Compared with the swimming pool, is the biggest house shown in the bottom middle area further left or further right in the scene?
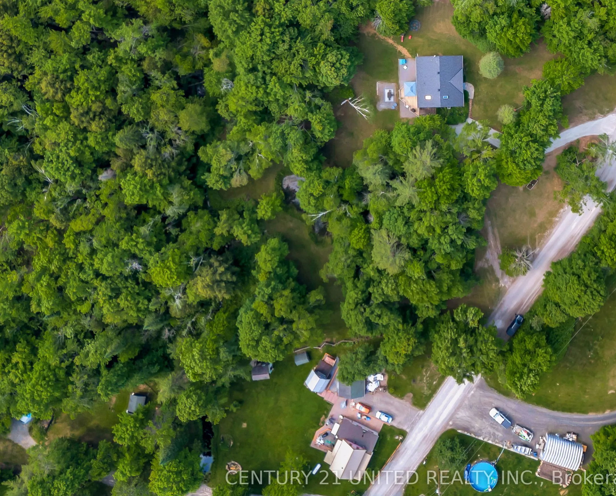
to its left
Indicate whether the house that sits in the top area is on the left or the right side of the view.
right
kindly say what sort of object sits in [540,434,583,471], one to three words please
shed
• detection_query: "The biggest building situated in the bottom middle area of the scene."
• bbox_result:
[324,414,381,482]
